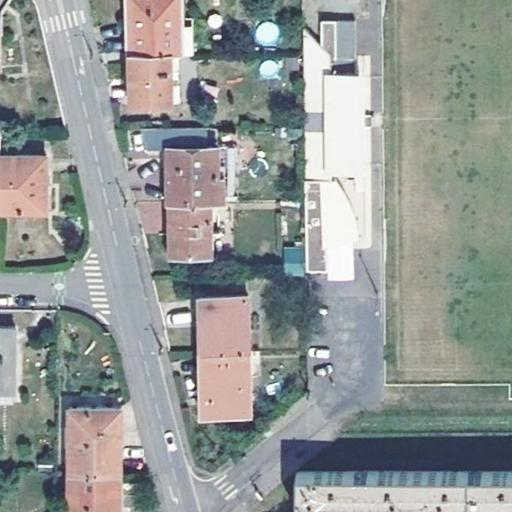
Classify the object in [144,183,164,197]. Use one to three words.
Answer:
car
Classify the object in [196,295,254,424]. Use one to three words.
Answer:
house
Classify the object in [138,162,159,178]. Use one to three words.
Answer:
car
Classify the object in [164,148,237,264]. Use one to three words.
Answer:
house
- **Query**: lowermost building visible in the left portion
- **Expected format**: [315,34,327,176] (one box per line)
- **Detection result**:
[64,407,124,512]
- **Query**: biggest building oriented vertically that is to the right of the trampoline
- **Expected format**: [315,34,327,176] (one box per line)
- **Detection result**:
[304,20,382,280]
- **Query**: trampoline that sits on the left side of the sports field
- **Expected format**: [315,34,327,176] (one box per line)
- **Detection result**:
[248,156,268,176]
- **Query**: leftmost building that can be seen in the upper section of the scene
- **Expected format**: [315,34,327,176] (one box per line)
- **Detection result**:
[0,154,50,219]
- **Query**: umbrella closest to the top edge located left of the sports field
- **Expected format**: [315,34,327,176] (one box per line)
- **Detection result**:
[208,14,223,28]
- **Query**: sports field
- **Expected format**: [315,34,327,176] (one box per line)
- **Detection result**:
[384,0,512,384]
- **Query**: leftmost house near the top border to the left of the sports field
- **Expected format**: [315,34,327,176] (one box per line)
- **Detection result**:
[124,0,194,116]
